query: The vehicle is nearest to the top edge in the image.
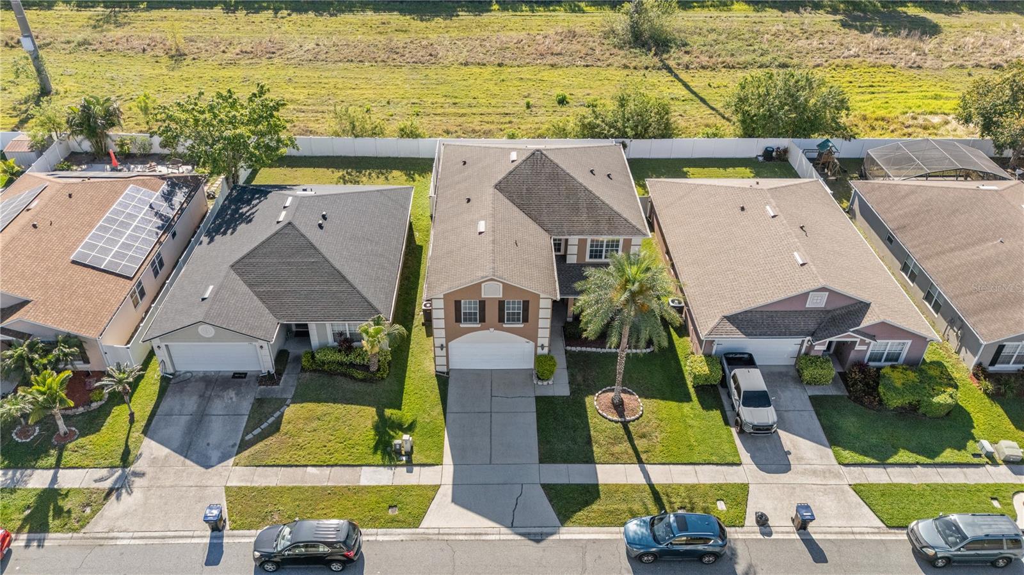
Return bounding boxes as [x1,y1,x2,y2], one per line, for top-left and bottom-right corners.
[721,352,785,439]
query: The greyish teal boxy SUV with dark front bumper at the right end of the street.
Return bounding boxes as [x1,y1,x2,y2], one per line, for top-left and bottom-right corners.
[908,513,1024,570]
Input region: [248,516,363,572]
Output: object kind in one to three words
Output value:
car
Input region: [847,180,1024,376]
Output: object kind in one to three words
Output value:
house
